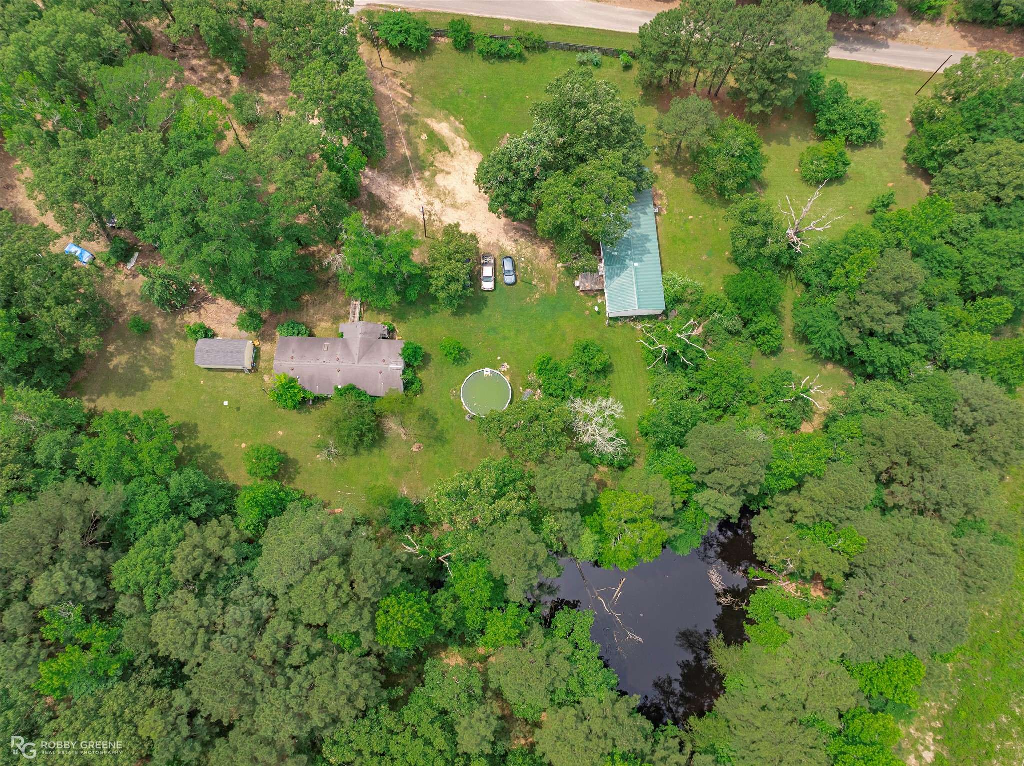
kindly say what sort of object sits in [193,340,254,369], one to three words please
shed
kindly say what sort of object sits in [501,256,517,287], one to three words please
car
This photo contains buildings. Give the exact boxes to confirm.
[273,320,405,397]
[600,173,666,320]
[193,340,254,369]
